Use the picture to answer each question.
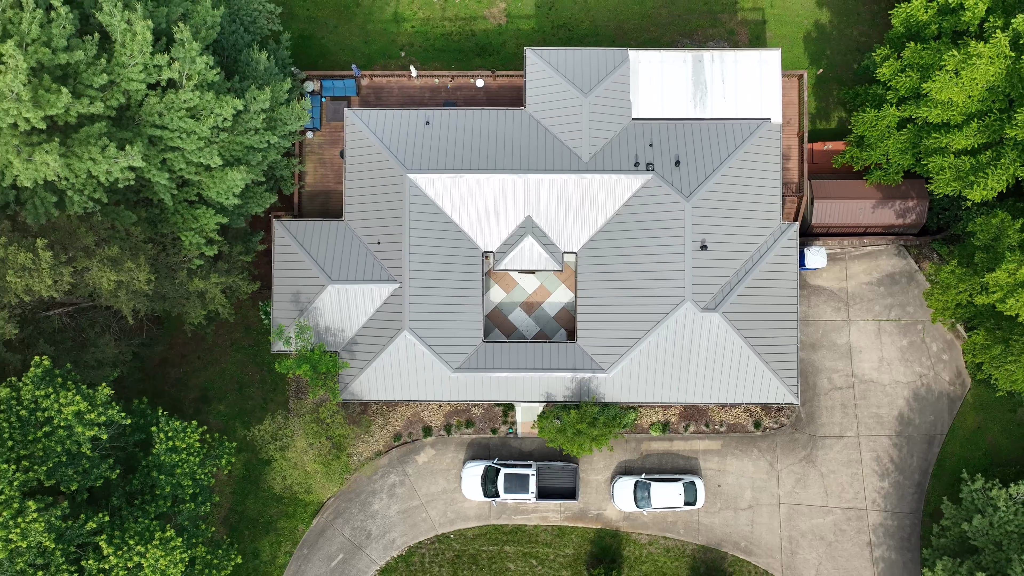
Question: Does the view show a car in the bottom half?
Yes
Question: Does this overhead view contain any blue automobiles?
No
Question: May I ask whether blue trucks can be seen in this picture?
No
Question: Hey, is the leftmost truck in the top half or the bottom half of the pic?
bottom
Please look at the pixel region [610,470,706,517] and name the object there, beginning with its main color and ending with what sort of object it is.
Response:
white car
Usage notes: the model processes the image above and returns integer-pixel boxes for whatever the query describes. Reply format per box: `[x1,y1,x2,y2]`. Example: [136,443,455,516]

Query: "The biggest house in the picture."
[271,47,799,405]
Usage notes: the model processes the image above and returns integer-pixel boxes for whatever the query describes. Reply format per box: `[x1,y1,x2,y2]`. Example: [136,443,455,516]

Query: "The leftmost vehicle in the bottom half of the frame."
[460,456,582,511]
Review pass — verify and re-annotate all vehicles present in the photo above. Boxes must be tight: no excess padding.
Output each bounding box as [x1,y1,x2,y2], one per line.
[610,470,706,517]
[460,456,582,511]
